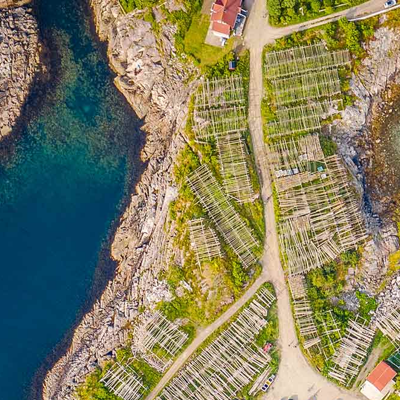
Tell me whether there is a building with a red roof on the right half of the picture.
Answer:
Yes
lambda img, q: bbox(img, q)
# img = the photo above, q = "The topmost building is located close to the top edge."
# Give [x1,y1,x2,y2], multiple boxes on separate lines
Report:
[211,0,247,43]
